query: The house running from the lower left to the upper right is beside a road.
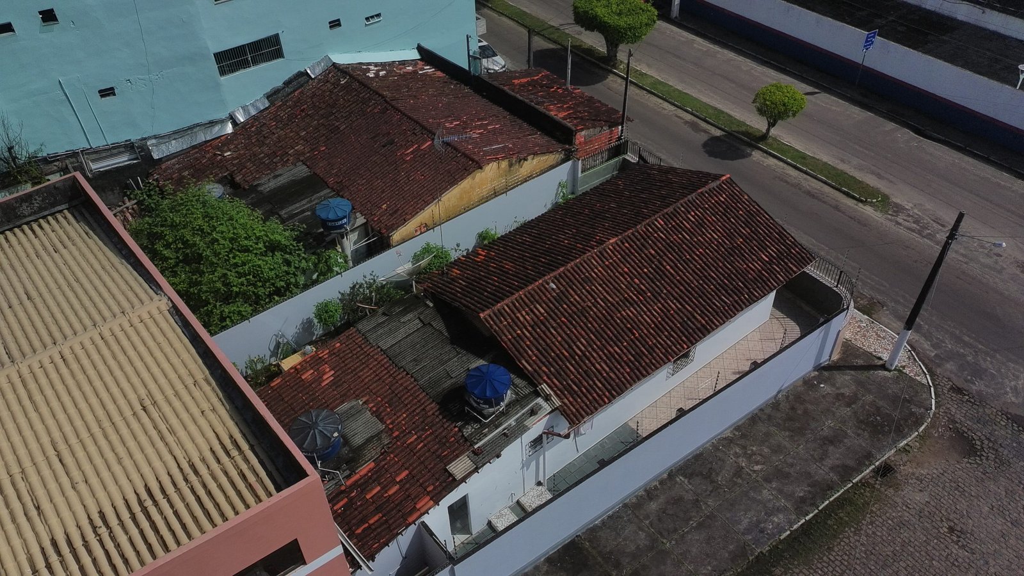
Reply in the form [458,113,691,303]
[255,160,817,576]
